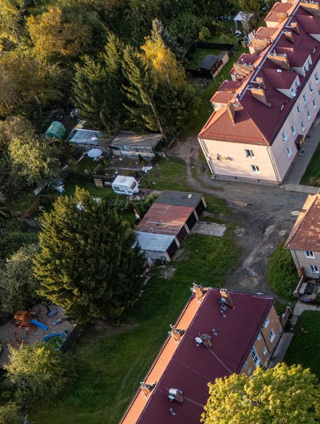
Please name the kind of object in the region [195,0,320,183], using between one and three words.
house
